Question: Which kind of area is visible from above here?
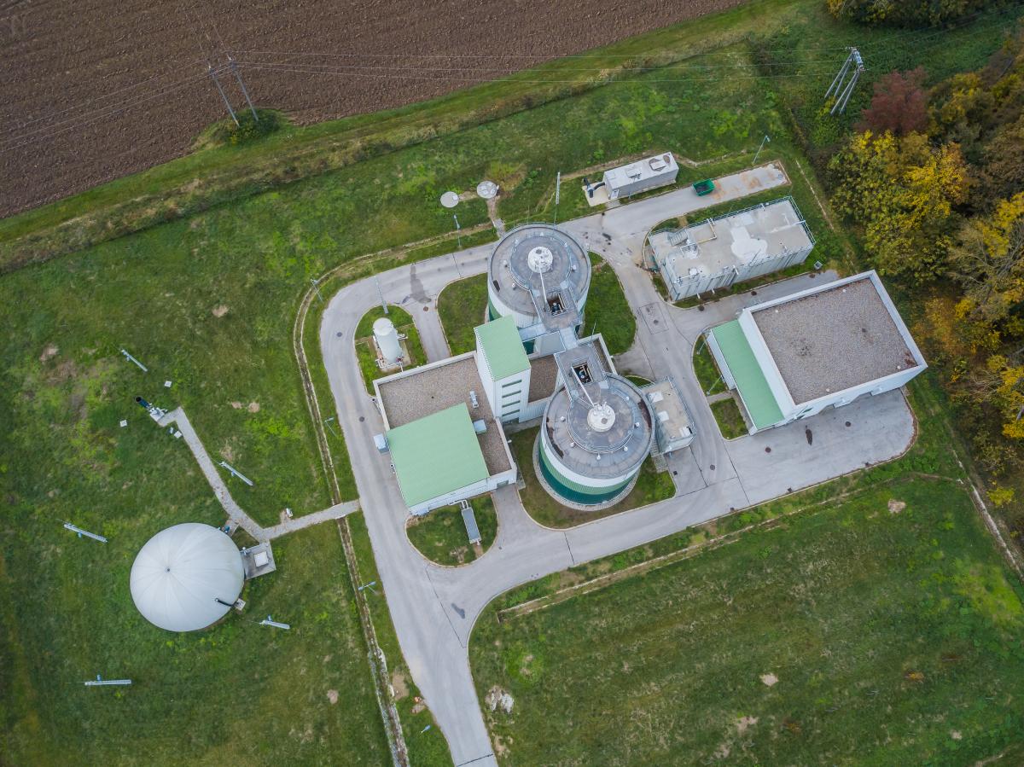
industrial area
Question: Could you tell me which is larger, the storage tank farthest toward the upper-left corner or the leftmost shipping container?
the shipping container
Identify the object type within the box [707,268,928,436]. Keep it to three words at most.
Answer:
building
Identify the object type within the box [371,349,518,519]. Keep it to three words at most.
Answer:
building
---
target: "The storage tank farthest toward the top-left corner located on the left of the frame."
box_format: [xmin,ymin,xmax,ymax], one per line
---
[374,325,406,372]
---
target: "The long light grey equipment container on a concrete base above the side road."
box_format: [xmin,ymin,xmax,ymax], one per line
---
[601,152,680,205]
